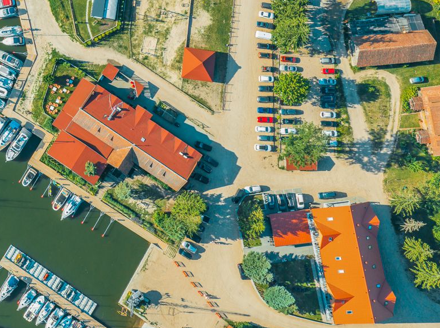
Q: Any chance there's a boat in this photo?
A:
Yes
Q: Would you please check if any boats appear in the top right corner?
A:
No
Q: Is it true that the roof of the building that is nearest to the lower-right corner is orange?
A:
Yes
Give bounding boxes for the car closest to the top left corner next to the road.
[193,140,211,152]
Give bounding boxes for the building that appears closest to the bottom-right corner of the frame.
[294,201,401,324]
